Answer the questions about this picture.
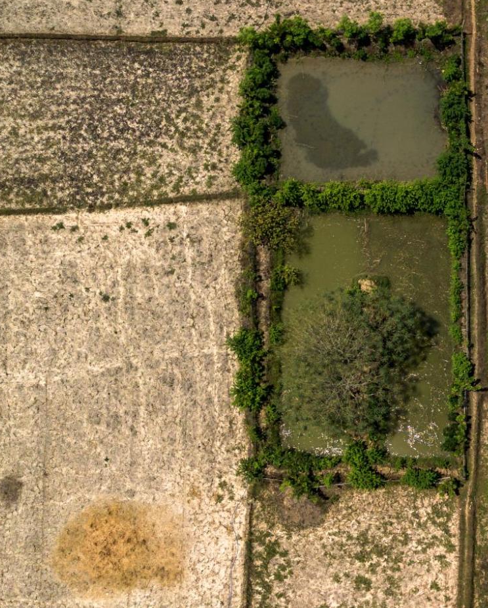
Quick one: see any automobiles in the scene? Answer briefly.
No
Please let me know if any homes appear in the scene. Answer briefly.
No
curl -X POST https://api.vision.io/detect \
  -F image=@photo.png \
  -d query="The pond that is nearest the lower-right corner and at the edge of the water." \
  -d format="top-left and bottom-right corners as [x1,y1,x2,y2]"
[281,212,452,458]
